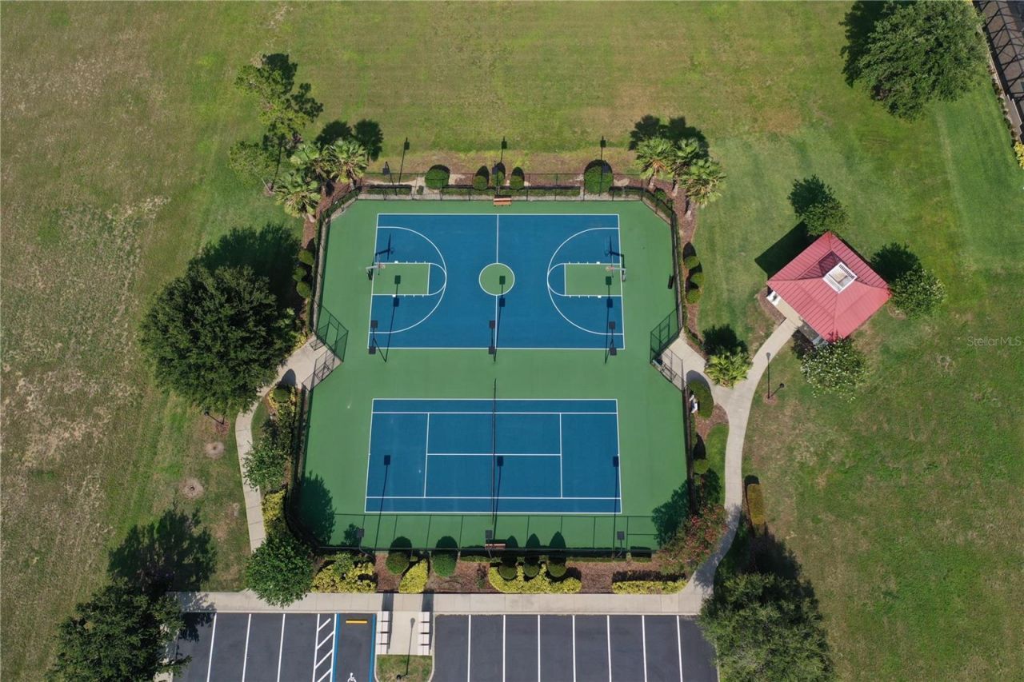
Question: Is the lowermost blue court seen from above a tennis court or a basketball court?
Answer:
tennis court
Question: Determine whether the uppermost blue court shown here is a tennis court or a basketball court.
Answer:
basketball court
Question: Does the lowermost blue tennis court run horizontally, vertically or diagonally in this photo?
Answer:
horizontally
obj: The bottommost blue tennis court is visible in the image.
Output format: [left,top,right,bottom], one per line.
[365,398,622,514]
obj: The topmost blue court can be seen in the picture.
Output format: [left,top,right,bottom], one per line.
[368,213,625,349]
